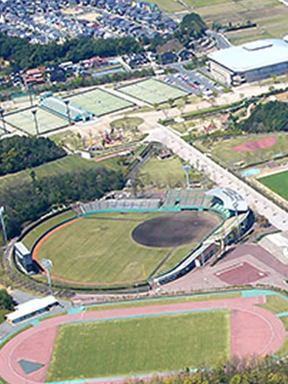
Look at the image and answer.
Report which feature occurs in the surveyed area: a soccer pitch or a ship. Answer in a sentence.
The image shows a soccer pitch.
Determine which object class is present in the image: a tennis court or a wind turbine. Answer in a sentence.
Visible in the photo is a tennis court.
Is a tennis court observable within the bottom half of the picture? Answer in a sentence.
No, looking within the bottom half of the picture, there is no tennis court.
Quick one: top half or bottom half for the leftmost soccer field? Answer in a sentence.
You can find the leftmost soccer field in the bottom half.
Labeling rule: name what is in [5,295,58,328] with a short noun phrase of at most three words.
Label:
shed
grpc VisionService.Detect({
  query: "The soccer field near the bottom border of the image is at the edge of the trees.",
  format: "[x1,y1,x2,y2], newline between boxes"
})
[46,308,232,381]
